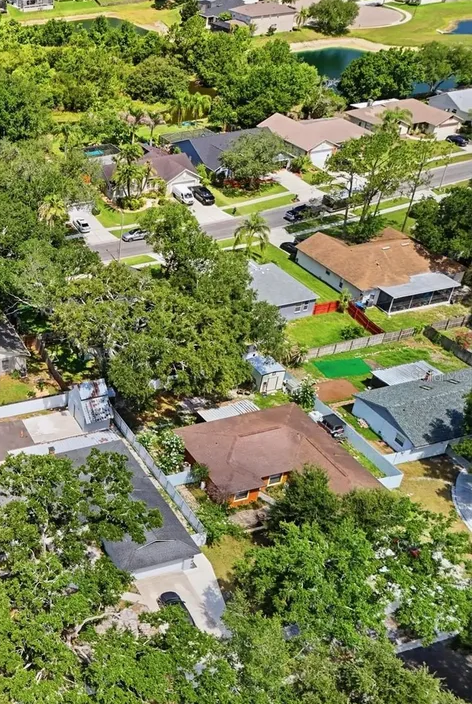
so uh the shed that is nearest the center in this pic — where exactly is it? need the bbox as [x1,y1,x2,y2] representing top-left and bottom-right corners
[244,352,285,392]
